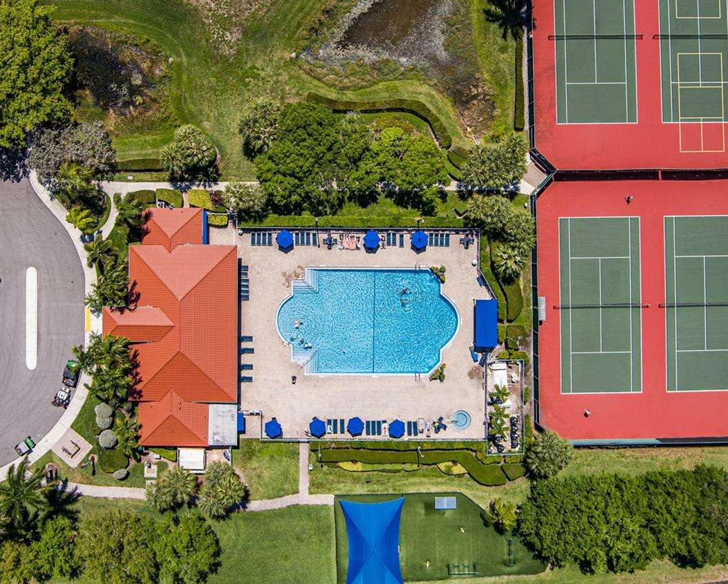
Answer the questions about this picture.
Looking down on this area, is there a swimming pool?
Yes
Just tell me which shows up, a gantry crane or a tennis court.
tennis court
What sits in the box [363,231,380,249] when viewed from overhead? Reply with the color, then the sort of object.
blue umbrella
